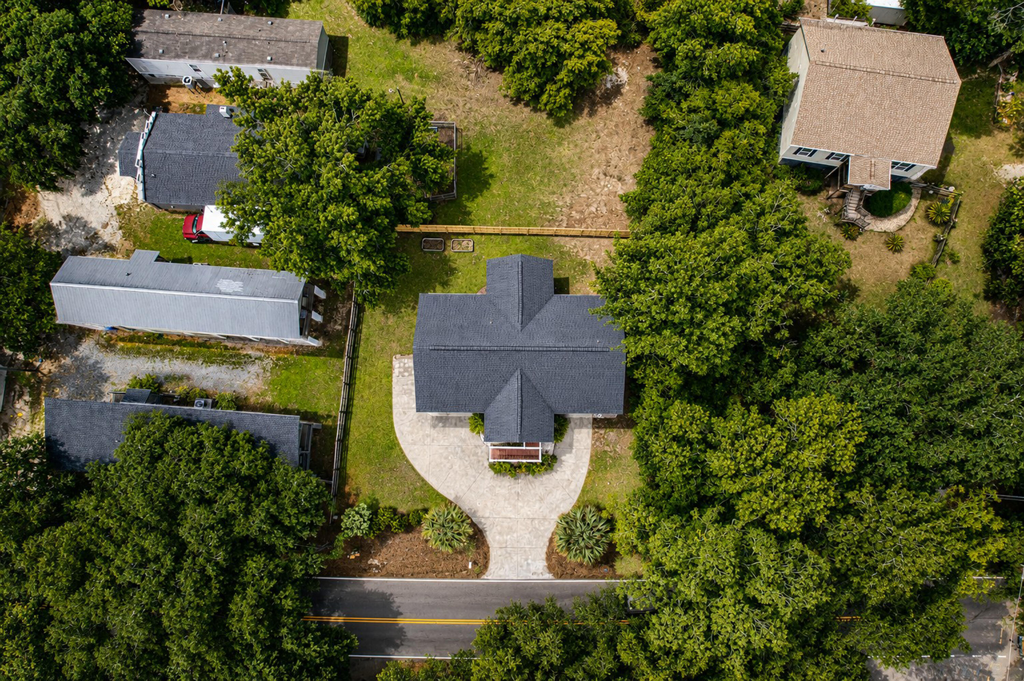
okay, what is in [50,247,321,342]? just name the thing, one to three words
house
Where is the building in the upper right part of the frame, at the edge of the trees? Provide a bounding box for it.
[773,18,962,250]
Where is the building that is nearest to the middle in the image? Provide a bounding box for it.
[412,254,628,463]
